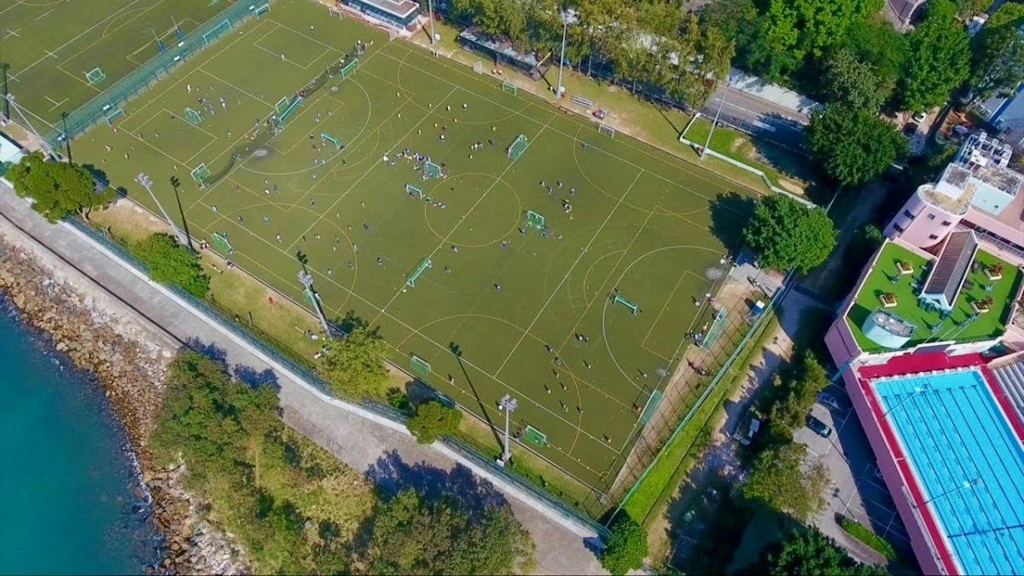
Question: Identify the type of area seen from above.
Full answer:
This image shows a sports ground.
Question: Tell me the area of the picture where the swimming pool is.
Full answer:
The swimming pool is located in the bottom right region of the scene.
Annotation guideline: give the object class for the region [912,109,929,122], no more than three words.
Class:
vehicle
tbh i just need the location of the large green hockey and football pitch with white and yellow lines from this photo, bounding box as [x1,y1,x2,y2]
[110,0,769,499]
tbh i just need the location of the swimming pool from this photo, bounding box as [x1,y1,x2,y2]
[869,365,1024,576]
